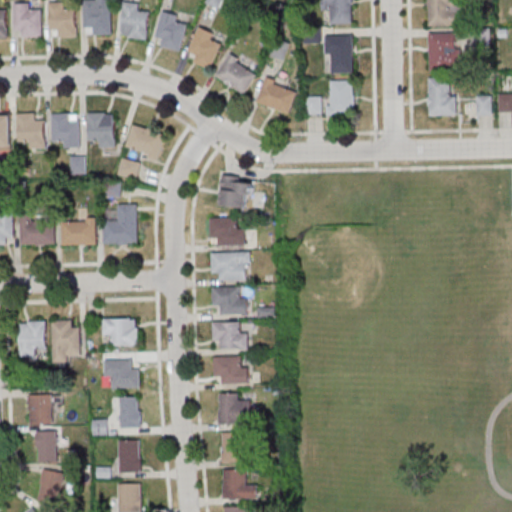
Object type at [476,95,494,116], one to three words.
building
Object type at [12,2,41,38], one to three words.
house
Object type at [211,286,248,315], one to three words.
house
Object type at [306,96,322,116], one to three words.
building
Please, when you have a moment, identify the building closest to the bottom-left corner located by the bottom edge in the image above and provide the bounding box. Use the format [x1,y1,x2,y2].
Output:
[38,468,64,504]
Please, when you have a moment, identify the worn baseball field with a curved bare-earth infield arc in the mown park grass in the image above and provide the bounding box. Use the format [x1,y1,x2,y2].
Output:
[298,221,392,313]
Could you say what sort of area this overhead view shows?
residential area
